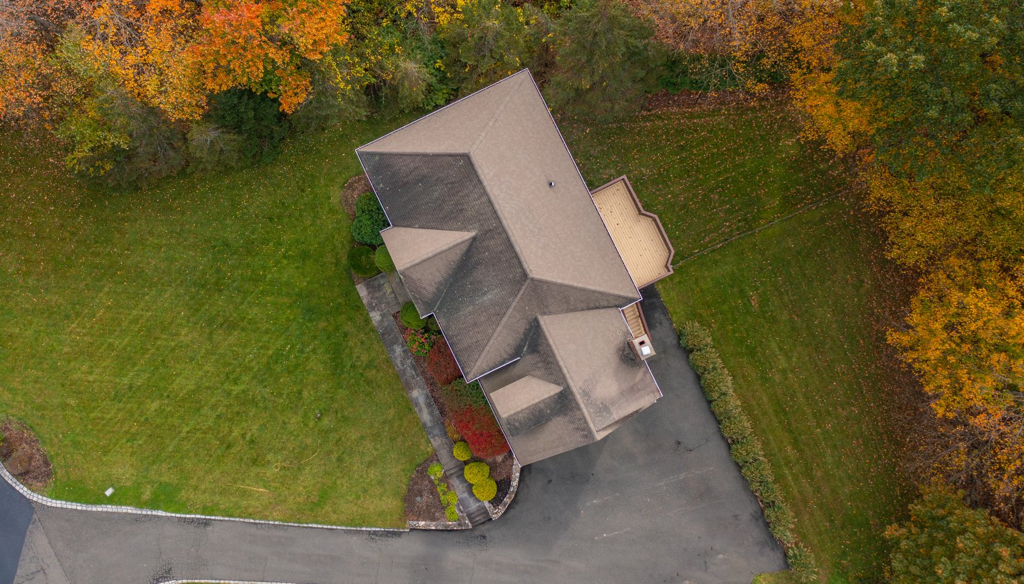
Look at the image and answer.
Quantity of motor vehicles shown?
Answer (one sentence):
There are no motor vehicles in this view.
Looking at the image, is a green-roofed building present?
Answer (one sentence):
No, there is no green-roofed building in the image.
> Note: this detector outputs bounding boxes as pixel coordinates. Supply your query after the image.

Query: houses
[354,66,663,466]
